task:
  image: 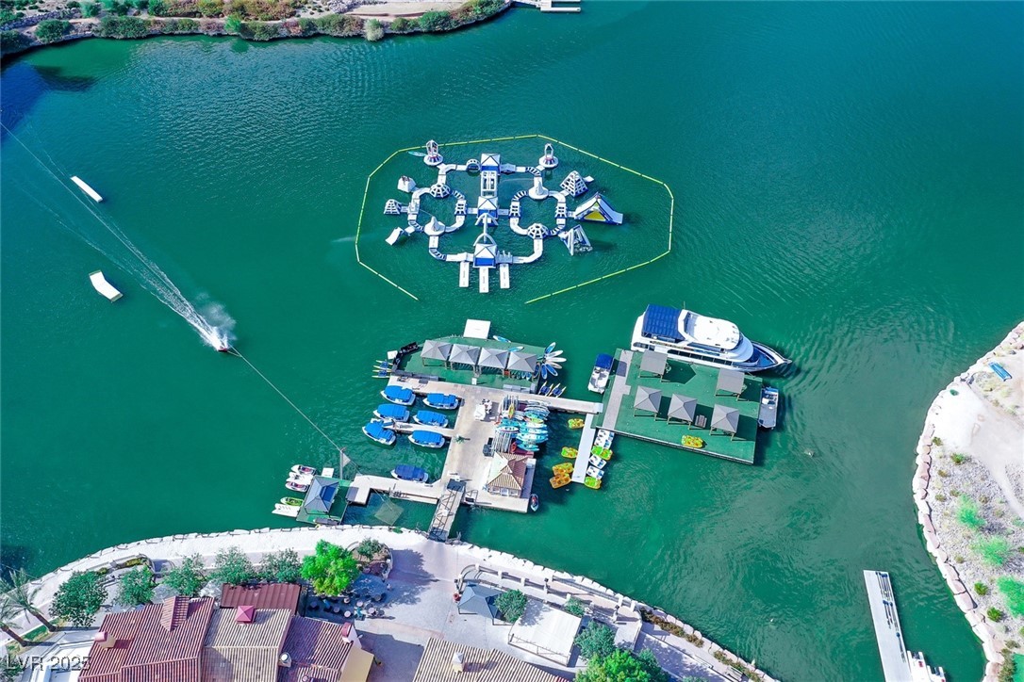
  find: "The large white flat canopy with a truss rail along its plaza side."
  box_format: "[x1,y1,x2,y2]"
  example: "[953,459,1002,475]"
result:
[509,597,582,667]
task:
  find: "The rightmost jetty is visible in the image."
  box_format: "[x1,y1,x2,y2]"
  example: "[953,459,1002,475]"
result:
[862,571,909,682]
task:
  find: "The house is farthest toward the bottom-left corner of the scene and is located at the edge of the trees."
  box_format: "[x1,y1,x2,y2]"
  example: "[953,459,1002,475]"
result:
[20,639,92,682]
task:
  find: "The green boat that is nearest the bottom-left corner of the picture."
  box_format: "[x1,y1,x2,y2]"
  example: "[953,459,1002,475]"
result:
[279,495,305,508]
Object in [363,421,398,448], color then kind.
blue boat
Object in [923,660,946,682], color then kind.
white boat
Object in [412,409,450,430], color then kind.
blue boat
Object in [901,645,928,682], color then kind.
white boat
